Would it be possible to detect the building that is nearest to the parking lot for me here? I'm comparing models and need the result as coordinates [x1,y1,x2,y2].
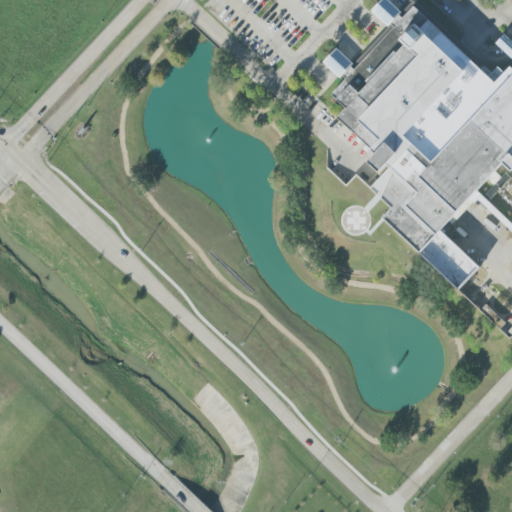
[332,5,512,328]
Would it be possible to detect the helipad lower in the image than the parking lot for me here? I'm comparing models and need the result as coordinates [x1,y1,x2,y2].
[342,206,370,236]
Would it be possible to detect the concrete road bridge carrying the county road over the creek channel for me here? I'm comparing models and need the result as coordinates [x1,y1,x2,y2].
[140,454,214,512]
